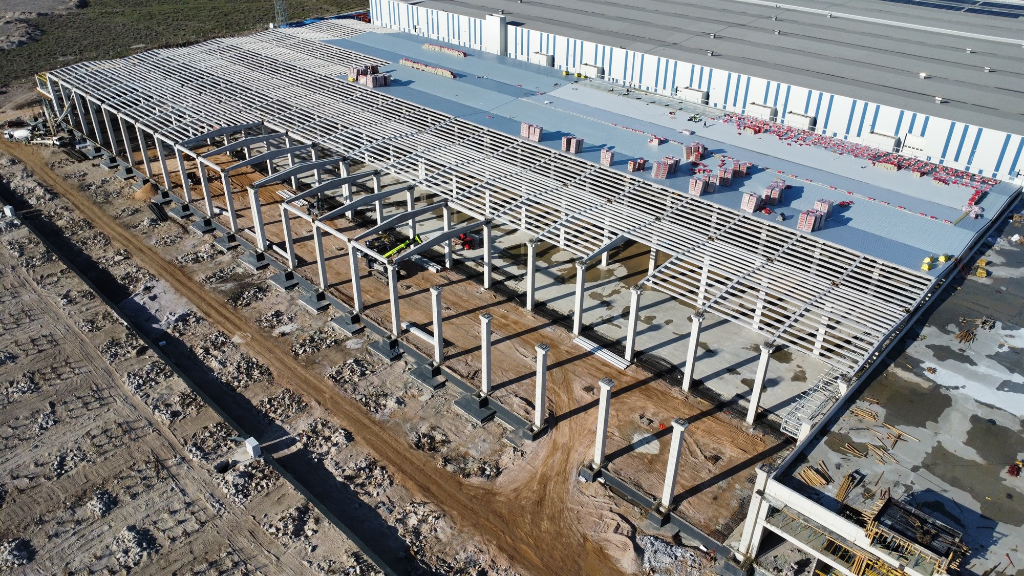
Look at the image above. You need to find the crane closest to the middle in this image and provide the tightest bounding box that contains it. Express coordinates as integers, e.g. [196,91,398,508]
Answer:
[369,229,430,285]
